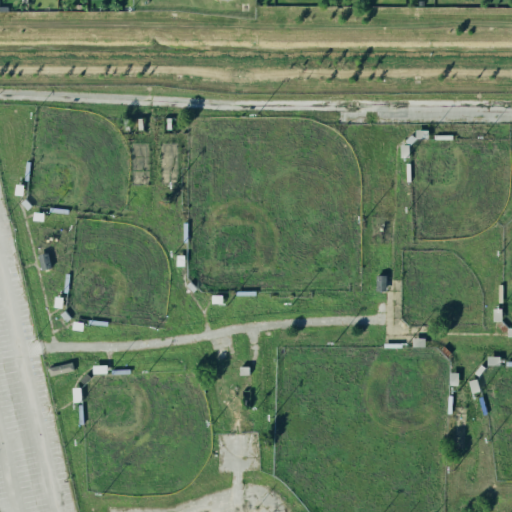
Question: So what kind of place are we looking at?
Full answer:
What you see here is a sports ground.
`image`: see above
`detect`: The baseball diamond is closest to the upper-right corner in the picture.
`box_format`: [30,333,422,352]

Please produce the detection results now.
[412,139,511,240]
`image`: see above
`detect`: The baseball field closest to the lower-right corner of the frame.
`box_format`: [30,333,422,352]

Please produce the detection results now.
[482,367,512,481]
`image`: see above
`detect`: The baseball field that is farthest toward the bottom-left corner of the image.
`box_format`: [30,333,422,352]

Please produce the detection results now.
[84,373,212,496]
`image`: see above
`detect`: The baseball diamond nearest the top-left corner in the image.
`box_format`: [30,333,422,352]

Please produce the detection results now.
[28,104,130,213]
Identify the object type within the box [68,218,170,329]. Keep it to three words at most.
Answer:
baseball field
